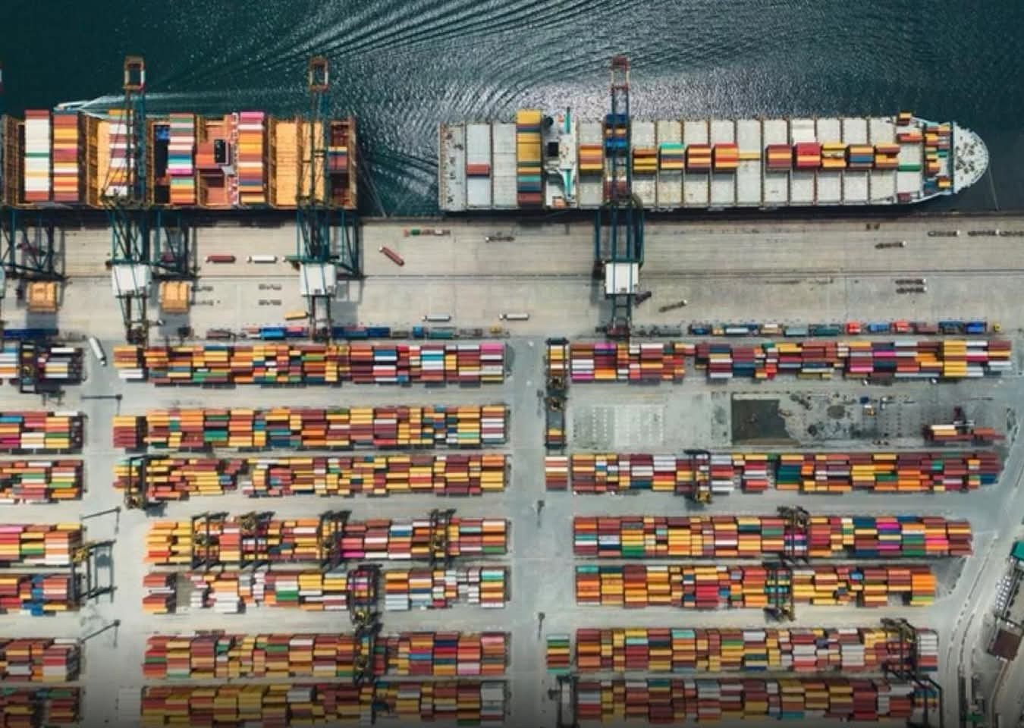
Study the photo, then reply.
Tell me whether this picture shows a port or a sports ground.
port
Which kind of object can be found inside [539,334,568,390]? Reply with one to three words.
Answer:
crane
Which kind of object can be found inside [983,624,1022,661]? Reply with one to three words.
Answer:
building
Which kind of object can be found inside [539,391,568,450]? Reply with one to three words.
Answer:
crane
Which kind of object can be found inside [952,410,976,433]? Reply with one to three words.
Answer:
work vehicle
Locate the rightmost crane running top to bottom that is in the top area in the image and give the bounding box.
[578,55,642,339]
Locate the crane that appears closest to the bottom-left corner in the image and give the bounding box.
[69,534,115,601]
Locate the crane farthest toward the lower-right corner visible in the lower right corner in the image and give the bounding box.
[896,664,944,728]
